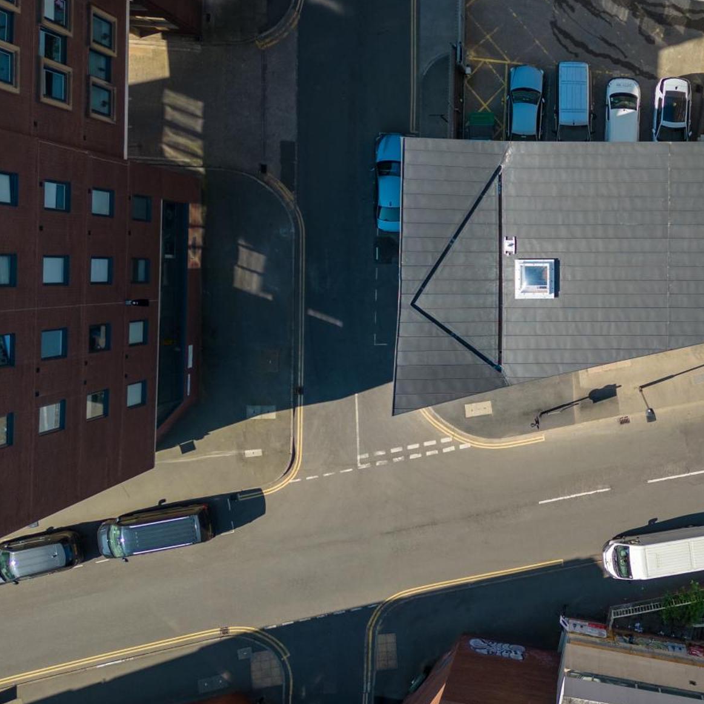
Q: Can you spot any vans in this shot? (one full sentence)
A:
Yes, you can see a van in this photo.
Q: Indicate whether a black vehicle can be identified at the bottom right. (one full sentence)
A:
No, I can find no black vehicle at the bottom right.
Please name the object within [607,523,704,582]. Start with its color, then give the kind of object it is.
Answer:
white van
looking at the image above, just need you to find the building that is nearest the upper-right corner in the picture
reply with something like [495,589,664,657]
[393,137,704,415]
